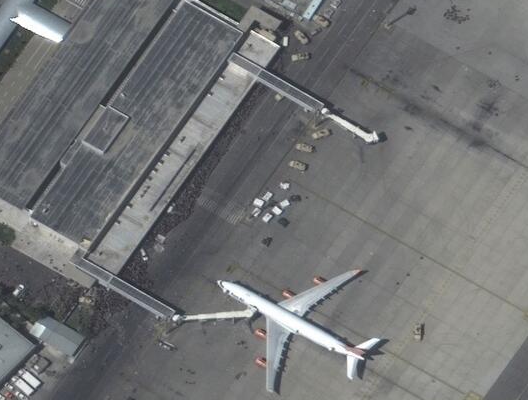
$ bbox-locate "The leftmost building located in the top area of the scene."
[0,0,258,277]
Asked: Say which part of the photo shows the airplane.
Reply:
bottom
